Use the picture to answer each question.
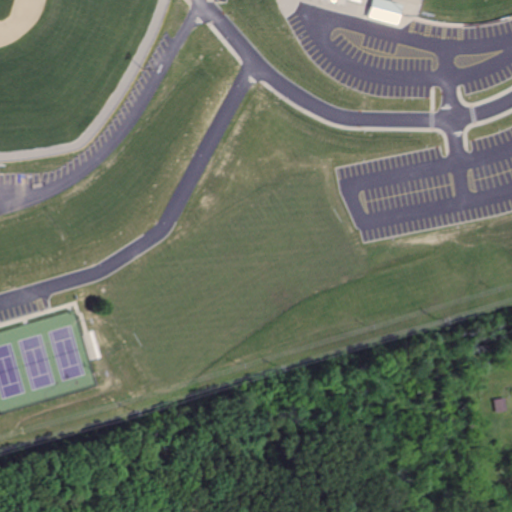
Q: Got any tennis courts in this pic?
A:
Yes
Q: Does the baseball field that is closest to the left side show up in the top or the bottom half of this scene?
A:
top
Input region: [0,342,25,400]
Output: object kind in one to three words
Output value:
tennis court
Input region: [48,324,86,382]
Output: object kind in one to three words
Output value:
tennis court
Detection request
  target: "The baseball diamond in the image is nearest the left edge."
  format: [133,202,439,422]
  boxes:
[0,0,169,162]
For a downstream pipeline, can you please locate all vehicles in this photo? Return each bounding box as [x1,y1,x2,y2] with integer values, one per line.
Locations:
[32,182,43,188]
[157,64,164,74]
